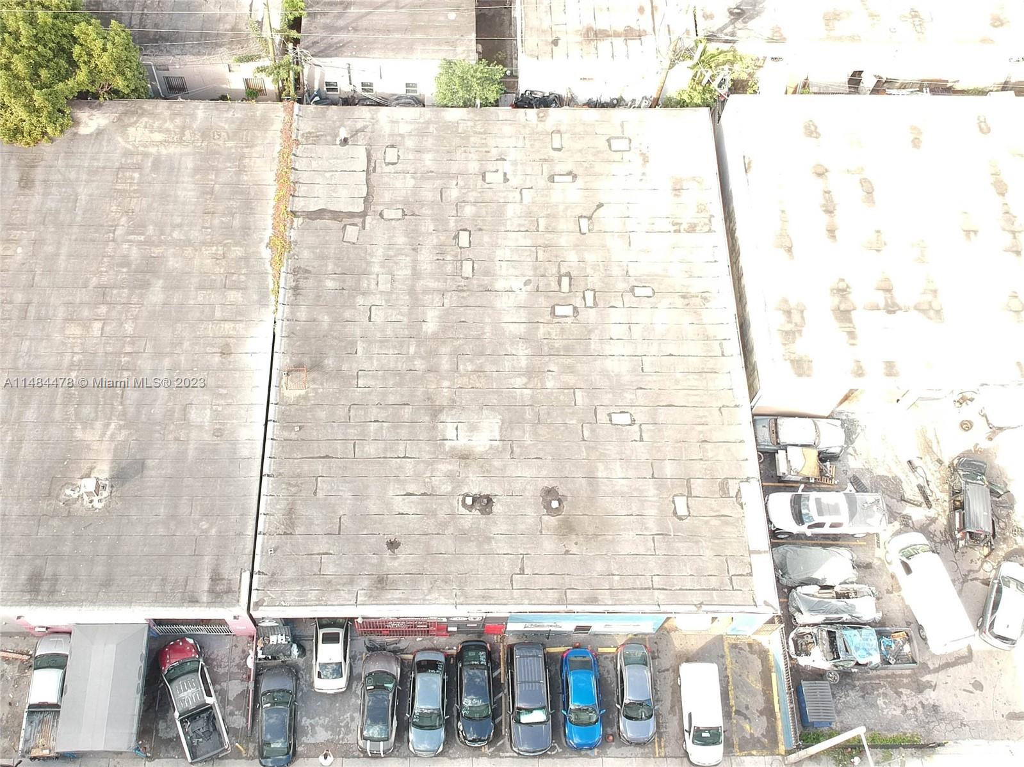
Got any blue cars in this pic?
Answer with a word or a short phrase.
Yes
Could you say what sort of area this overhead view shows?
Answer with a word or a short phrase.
industrial area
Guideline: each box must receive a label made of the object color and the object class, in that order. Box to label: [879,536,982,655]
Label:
white van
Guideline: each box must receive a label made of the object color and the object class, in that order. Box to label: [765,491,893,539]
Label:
white truck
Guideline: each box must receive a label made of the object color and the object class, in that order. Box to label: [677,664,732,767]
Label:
white van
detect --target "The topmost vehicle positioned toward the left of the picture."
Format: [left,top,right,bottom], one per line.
[309,622,352,694]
